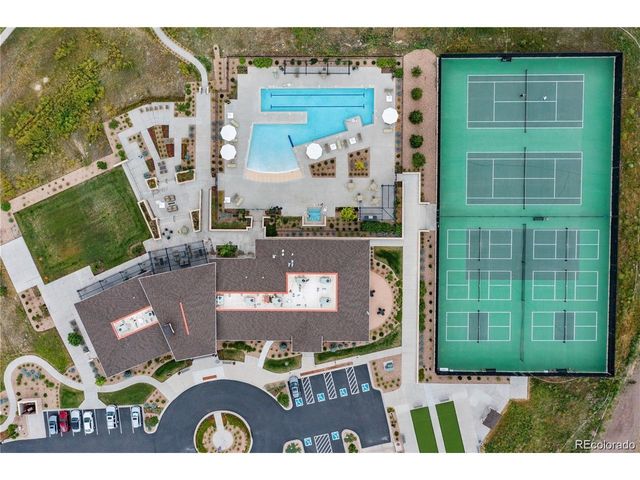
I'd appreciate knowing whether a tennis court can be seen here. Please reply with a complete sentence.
Yes, there's a tennis court here.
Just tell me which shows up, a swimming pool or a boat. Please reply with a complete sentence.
Of the two, only a swimming pool appears.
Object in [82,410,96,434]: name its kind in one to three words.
vehicle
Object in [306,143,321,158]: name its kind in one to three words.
umbrella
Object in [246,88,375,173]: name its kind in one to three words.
swimming pool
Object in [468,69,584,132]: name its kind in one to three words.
tennis court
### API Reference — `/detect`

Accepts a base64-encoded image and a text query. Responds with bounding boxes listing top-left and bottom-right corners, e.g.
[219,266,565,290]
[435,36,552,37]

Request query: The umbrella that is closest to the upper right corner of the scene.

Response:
[382,108,398,123]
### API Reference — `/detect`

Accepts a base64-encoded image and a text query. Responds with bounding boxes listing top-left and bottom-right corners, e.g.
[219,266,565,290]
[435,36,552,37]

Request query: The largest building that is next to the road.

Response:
[74,238,371,378]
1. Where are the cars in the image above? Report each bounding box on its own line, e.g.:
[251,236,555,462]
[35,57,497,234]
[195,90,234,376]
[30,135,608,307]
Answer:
[131,405,143,428]
[106,404,119,429]
[48,414,61,435]
[70,409,84,432]
[288,374,300,398]
[82,410,96,434]
[58,409,72,433]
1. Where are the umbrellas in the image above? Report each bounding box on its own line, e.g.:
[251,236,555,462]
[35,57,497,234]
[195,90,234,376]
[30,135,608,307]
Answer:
[221,124,236,140]
[306,143,321,158]
[221,144,236,159]
[382,108,398,123]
